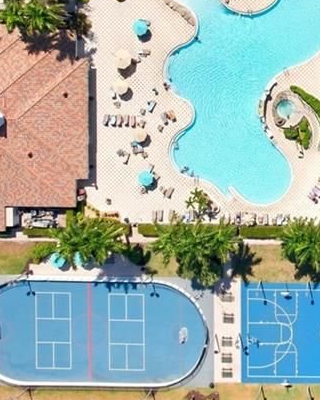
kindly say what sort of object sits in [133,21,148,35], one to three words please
umbrella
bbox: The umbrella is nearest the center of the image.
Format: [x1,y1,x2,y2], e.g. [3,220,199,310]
[138,171,154,187]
